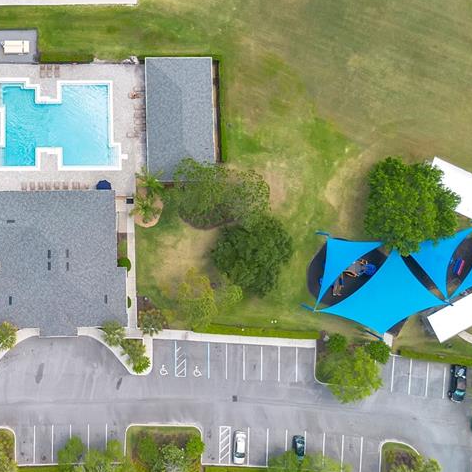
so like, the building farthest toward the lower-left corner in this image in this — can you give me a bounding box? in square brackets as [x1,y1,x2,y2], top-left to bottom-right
[0,191,127,337]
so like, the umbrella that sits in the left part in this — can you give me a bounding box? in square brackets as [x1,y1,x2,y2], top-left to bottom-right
[96,178,111,191]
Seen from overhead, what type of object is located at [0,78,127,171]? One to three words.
swimming pool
